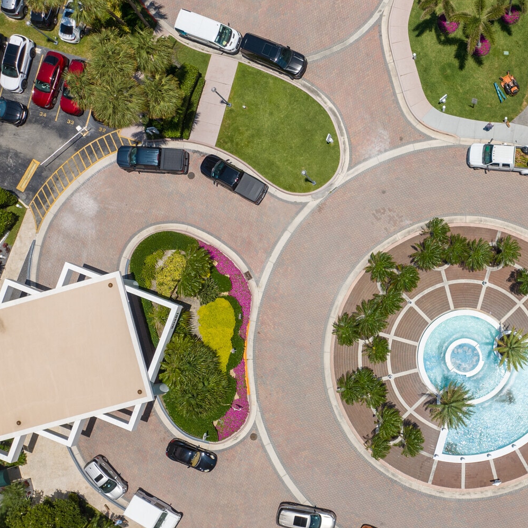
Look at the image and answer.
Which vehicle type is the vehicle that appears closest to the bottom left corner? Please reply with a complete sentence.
It turns out the vehicle that appears closest to the bottom left corner is a car.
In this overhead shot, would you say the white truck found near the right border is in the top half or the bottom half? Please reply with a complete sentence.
It is in the top half that the white truck found near the right border appears.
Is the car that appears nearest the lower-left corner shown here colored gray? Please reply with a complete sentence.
Yes, the car that appears nearest the lower-left corner appears gray.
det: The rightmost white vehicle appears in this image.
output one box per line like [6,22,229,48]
[467,138,528,176]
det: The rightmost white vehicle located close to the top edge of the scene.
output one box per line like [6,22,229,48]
[179,11,244,54]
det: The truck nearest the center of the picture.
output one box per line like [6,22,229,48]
[198,154,272,208]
